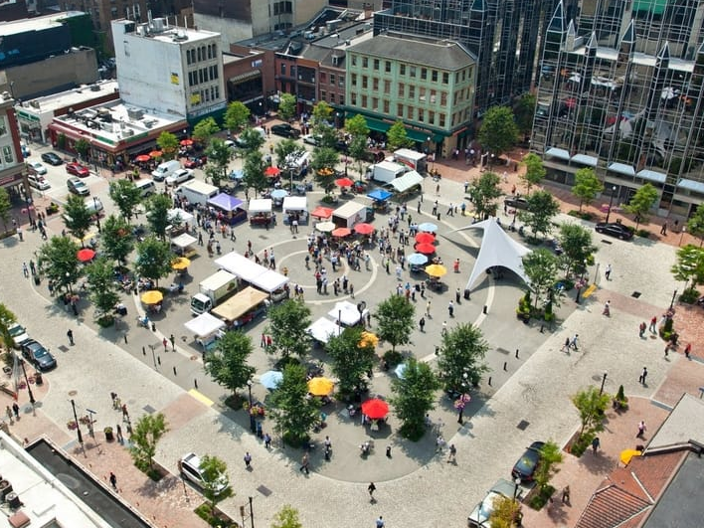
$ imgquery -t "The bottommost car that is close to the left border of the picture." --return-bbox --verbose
[16,341,66,377]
